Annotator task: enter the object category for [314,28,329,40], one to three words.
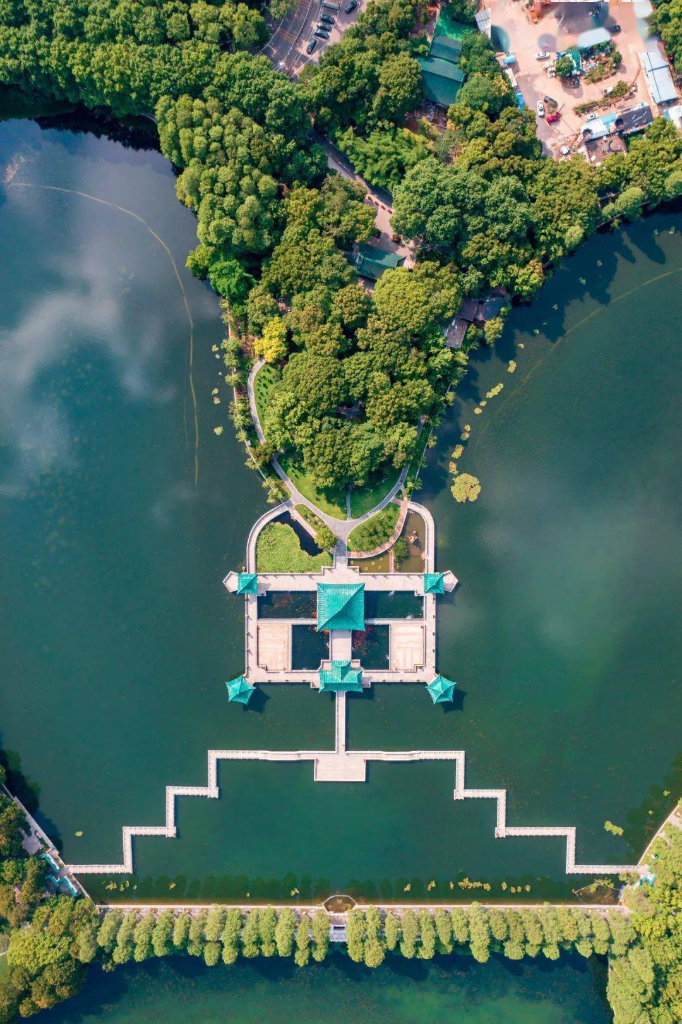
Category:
vehicle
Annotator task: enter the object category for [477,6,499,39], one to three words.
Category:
shed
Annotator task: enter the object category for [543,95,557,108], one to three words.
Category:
vehicle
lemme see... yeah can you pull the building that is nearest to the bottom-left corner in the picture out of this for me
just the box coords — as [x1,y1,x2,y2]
[224,674,257,705]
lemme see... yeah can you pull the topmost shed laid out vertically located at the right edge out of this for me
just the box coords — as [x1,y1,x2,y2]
[630,0,678,104]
